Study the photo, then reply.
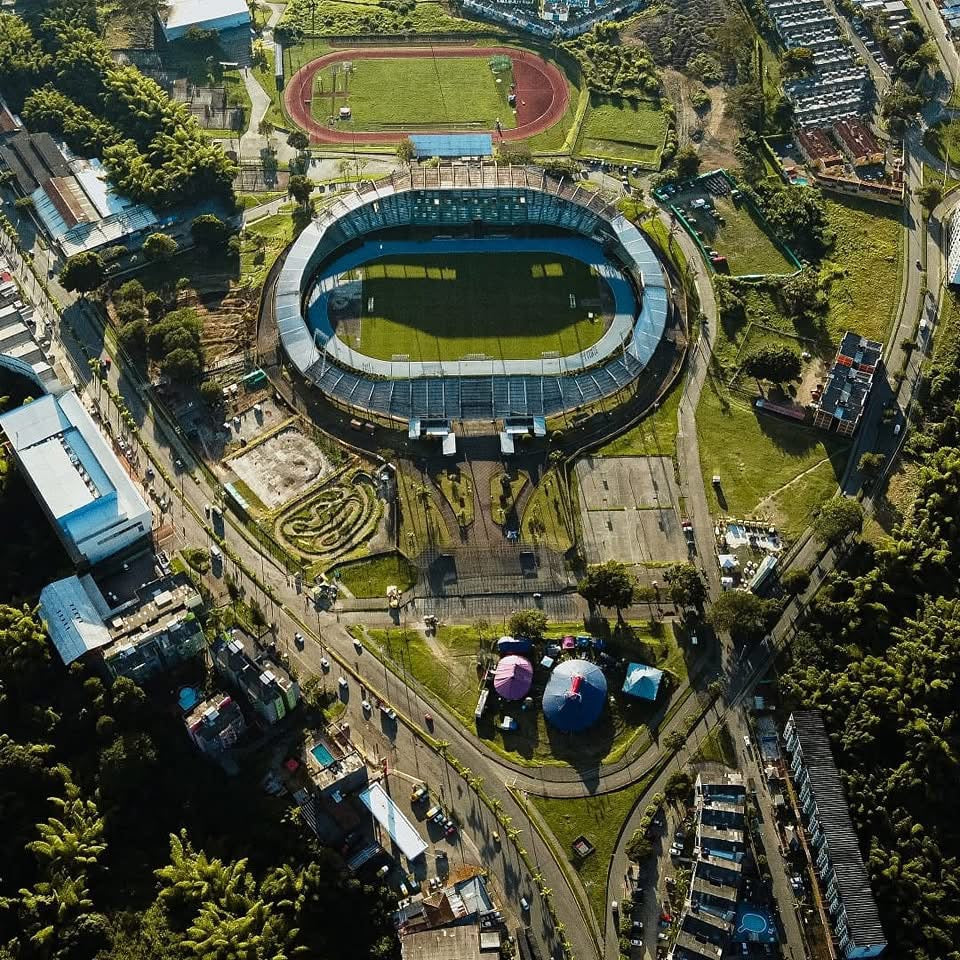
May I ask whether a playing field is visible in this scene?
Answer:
Yes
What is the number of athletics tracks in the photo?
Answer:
2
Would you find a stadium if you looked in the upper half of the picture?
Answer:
Yes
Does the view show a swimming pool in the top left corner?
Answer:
No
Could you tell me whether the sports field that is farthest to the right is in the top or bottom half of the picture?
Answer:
top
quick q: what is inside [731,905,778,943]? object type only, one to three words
swimming pool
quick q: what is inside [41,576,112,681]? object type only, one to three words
building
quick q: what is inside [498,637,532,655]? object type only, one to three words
tent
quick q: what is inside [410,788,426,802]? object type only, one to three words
vehicle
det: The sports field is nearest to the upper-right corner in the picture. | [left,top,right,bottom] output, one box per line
[574,92,668,170]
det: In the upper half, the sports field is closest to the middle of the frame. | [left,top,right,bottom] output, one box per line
[356,256,606,360]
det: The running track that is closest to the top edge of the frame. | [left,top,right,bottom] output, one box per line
[285,41,570,142]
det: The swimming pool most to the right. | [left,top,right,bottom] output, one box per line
[787,172,810,188]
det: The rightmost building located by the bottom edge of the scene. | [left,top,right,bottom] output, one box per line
[769,710,888,960]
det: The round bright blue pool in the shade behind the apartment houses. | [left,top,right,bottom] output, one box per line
[173,697,196,717]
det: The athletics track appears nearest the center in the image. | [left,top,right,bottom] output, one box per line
[307,236,637,376]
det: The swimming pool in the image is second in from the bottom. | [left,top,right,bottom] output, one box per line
[307,738,340,774]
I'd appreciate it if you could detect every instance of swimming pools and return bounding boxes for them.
[173,697,196,717]
[787,172,810,188]
[307,738,340,774]
[731,905,778,943]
